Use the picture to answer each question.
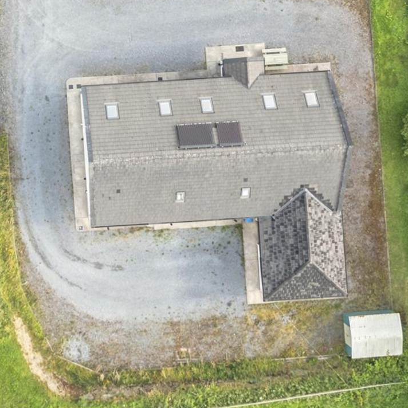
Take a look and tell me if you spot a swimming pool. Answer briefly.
No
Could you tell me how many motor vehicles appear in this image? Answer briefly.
0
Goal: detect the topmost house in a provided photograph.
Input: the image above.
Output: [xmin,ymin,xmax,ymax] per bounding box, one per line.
[78,57,352,304]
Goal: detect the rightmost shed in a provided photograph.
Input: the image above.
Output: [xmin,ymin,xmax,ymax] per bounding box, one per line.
[341,309,405,358]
